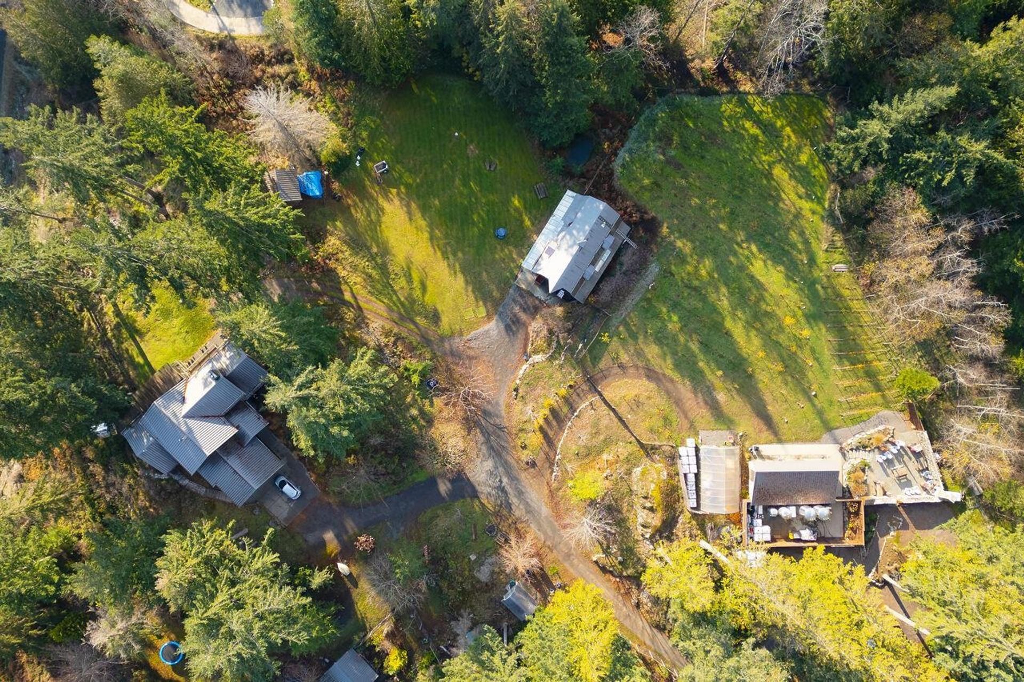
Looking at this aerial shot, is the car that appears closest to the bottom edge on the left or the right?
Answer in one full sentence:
It is on the left.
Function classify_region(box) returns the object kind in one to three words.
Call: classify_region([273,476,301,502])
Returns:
car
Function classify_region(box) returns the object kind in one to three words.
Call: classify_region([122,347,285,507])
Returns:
house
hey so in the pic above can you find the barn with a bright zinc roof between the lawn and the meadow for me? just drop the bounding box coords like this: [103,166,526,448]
[521,189,631,303]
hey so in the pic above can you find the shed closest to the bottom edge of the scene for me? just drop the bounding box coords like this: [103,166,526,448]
[319,647,379,682]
